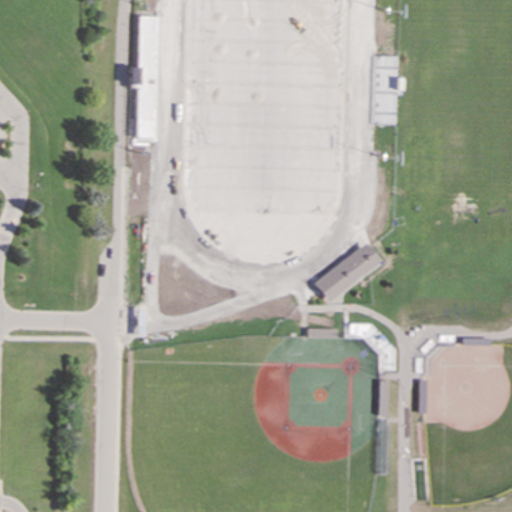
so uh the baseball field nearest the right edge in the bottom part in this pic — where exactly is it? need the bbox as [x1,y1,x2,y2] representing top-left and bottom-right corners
[426,346,512,506]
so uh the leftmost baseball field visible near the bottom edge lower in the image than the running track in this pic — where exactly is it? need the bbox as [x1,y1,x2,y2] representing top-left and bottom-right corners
[132,338,378,512]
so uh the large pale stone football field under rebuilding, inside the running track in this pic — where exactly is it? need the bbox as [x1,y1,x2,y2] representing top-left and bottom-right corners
[187,0,344,264]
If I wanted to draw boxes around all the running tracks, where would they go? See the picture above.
[170,0,372,284]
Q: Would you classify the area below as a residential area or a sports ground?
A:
sports ground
